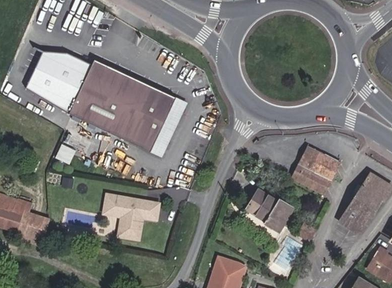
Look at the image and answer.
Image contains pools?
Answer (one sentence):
Yes, you can see a pool in this photo.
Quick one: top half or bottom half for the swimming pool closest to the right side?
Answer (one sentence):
The bottom half of the photo is where the swimming pool closest to the right side is.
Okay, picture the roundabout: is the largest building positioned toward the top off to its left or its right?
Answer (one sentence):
You can see the largest building positioned toward the top positioned to the left of the roundabout.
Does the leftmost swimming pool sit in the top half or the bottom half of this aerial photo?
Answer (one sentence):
The leftmost swimming pool is in the bottom half of the image.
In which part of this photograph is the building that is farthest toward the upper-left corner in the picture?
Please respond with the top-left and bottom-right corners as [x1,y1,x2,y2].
[26,52,88,112]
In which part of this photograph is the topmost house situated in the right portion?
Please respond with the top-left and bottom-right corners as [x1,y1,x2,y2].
[292,144,341,194]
